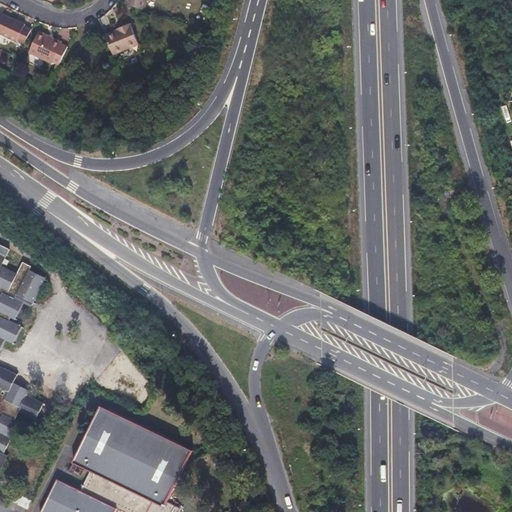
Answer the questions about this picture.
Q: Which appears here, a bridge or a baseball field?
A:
bridge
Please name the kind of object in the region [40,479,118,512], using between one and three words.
building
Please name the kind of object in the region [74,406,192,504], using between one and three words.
building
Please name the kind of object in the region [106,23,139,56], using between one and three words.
house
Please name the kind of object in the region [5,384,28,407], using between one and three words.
house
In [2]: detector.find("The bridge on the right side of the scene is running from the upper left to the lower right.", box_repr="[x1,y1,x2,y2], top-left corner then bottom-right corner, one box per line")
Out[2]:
[321,294,459,432]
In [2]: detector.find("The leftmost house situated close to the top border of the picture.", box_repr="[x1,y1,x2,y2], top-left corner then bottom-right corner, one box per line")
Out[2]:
[0,12,33,44]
